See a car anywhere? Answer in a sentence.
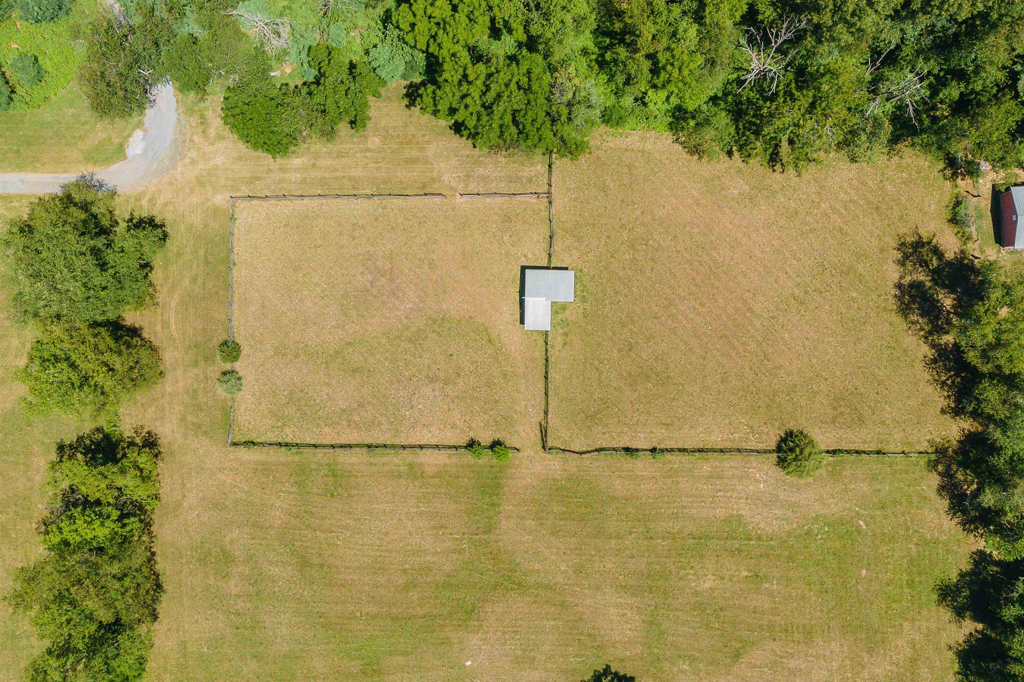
No, the photo shows no car.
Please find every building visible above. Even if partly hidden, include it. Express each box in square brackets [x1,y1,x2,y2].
[998,189,1024,247]
[522,268,577,330]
